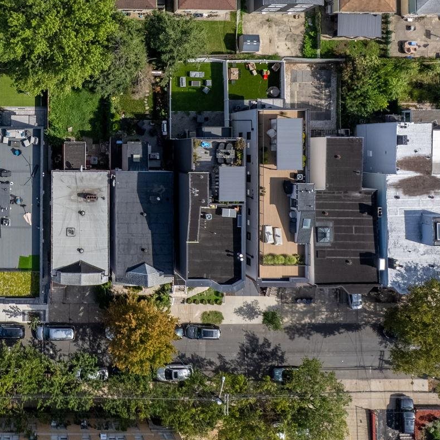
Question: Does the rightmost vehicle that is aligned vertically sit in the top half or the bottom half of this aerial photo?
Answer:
bottom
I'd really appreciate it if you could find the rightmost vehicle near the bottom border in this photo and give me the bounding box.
[396,395,416,437]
